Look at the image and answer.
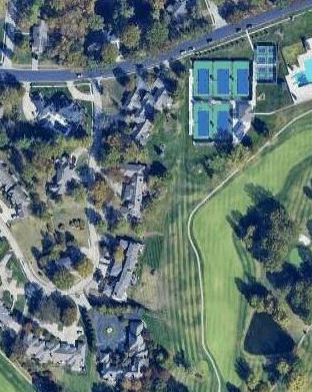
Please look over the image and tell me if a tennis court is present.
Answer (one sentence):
Yes, the photo shows a tennis court.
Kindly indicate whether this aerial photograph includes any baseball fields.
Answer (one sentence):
No, no baseball field can be seen from above.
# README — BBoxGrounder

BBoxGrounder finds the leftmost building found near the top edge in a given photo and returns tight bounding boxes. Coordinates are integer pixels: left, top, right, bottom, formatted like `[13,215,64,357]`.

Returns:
[27,20,50,53]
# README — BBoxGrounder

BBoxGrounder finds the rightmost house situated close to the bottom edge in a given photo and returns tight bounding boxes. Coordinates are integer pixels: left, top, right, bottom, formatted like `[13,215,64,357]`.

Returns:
[95,319,149,383]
